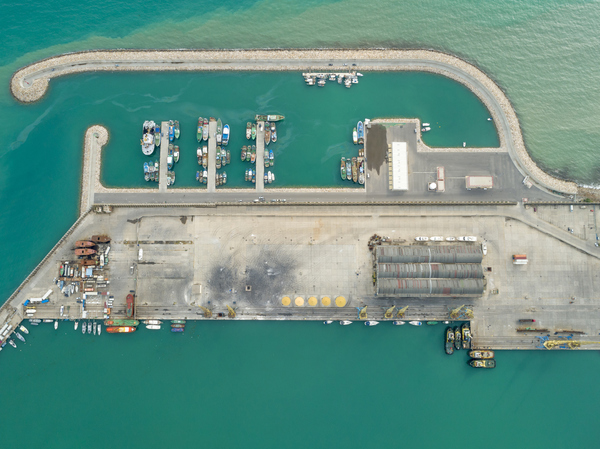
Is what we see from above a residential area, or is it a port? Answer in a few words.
port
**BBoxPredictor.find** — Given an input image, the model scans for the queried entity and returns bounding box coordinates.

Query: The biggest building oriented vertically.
[388,142,408,191]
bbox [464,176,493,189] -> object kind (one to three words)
building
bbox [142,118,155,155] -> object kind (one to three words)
boat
